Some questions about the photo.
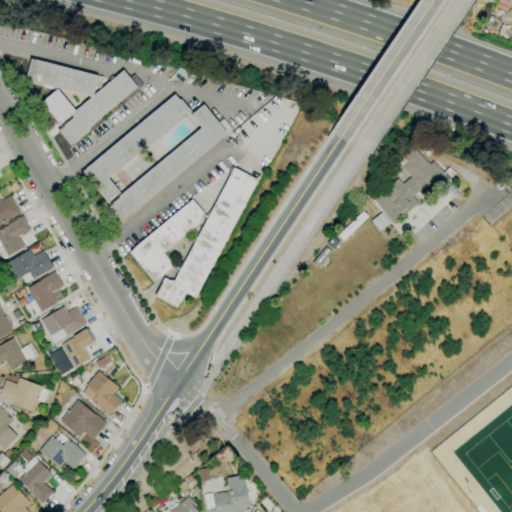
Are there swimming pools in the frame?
Yes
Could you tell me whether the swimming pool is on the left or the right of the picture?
left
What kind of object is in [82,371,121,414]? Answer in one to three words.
house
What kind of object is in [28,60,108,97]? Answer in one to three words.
building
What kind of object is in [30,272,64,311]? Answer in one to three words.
house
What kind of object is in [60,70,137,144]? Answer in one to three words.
building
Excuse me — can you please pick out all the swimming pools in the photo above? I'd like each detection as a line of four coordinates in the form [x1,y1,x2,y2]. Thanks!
[162,122,191,149]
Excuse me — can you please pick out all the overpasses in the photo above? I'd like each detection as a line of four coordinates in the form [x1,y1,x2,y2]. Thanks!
[329,0,476,156]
